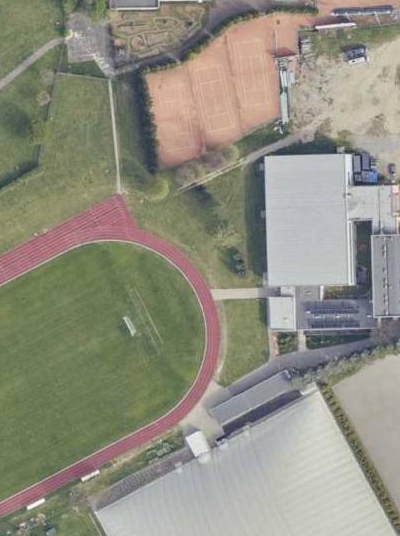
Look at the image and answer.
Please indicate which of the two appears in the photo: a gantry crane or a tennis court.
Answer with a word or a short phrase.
tennis court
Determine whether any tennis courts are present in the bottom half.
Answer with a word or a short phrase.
No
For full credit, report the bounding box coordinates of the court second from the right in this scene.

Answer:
[189,61,235,138]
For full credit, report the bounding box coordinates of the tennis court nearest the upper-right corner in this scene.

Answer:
[229,36,276,110]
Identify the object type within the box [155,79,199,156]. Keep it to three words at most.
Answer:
tennis court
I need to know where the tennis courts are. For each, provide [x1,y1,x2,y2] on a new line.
[189,61,235,138]
[229,36,276,110]
[155,79,199,156]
